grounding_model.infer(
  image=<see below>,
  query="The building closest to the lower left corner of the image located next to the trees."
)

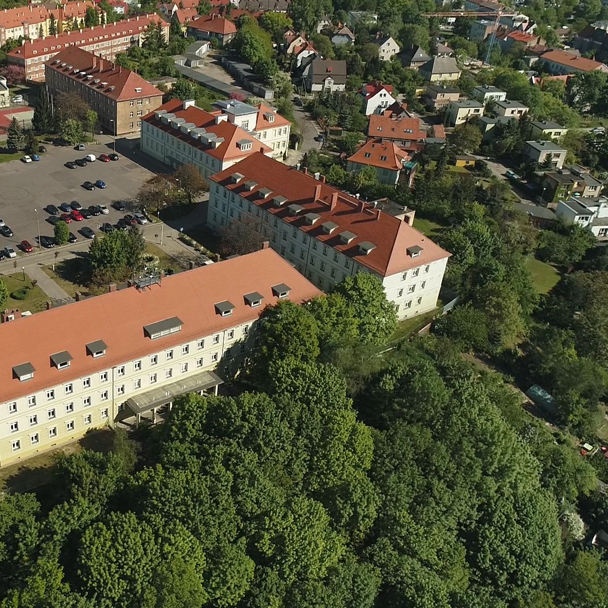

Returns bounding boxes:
[0,242,326,464]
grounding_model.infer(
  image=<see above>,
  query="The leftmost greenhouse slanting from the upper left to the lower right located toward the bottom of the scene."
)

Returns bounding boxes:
[518,380,564,415]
